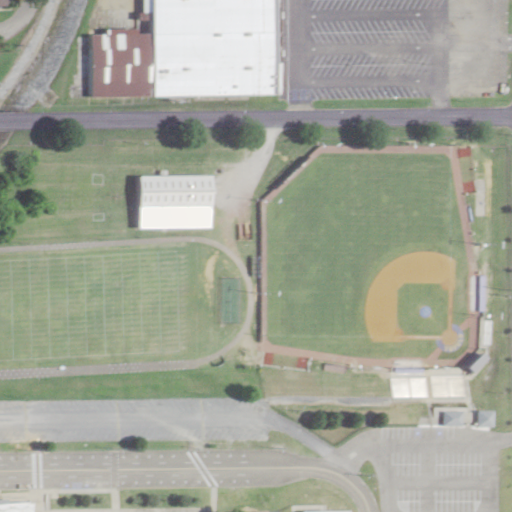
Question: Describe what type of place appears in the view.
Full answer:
This image shows a sports ground.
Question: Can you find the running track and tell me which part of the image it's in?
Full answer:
The running track is located in the left region of the scene.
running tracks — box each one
[0,236,254,379]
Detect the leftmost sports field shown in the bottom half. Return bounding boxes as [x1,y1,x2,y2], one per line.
[0,254,203,360]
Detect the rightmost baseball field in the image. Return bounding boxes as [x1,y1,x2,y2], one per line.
[261,146,476,368]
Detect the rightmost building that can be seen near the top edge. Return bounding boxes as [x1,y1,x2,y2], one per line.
[151,0,285,98]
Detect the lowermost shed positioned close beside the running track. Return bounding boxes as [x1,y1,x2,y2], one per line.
[138,176,216,230]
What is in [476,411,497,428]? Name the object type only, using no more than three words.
building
